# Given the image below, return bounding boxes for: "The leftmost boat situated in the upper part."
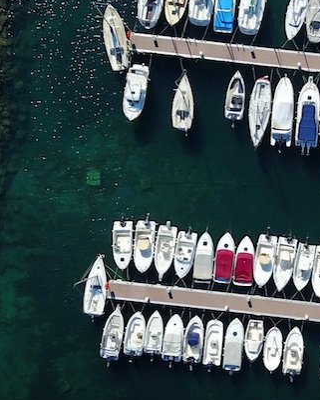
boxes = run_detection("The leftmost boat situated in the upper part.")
[101,3,128,71]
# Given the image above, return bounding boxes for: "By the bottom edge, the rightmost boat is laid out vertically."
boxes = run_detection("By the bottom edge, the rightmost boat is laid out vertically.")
[282,319,307,383]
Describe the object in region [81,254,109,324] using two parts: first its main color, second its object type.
white boat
